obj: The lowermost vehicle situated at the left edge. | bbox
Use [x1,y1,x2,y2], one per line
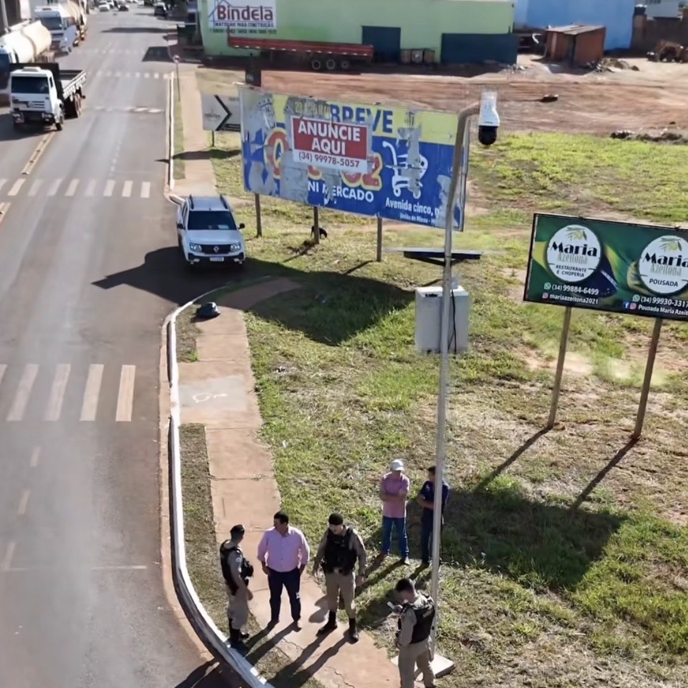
[2,64,86,126]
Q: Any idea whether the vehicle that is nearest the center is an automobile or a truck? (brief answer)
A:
automobile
